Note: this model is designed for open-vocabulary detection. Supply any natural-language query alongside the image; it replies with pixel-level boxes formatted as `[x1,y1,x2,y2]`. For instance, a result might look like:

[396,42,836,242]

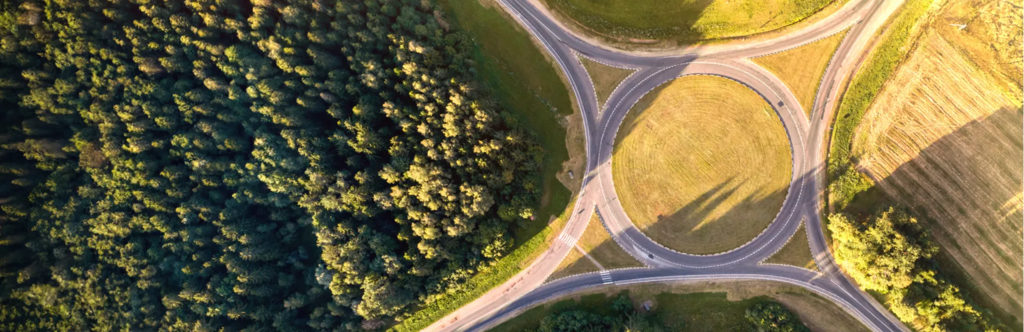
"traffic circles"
[588,51,815,278]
